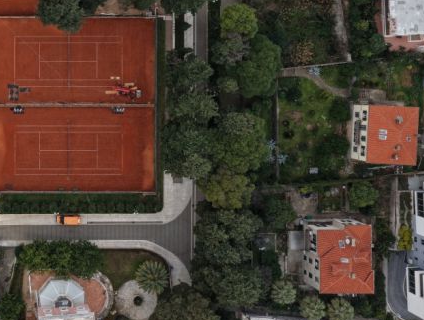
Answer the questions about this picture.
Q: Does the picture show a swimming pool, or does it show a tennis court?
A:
tennis court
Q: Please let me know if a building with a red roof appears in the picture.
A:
Yes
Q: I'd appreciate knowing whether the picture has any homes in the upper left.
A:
No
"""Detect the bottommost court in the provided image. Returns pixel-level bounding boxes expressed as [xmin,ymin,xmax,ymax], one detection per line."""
[0,107,155,191]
